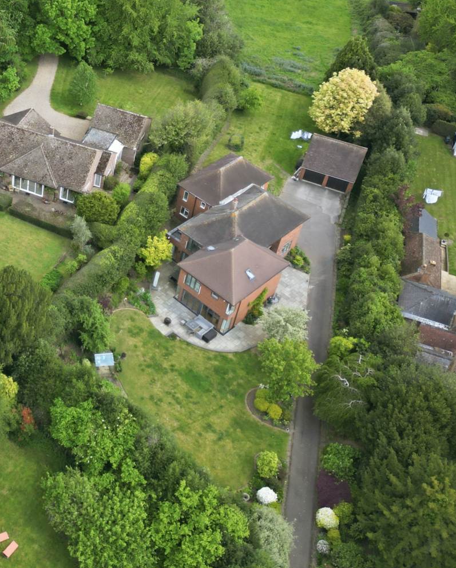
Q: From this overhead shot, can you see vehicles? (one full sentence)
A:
No, there is no vehicle in the image.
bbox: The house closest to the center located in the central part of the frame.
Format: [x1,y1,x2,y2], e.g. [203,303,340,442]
[167,154,315,333]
